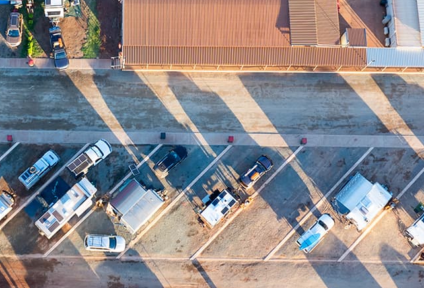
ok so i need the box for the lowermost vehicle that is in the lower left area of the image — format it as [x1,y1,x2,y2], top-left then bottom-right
[85,233,125,253]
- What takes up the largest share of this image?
paved ground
